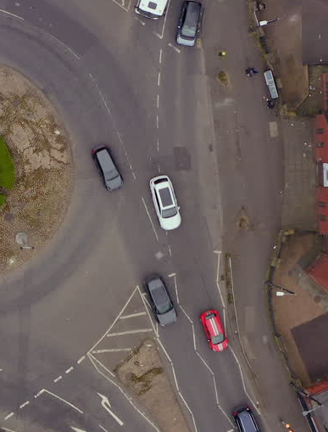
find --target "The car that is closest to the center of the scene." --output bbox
[149,175,180,229]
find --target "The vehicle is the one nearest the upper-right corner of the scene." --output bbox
[175,0,201,48]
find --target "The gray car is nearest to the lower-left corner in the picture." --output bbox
[144,275,176,326]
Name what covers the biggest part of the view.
paved ground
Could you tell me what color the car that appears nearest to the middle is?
white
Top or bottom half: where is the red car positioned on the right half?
bottom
